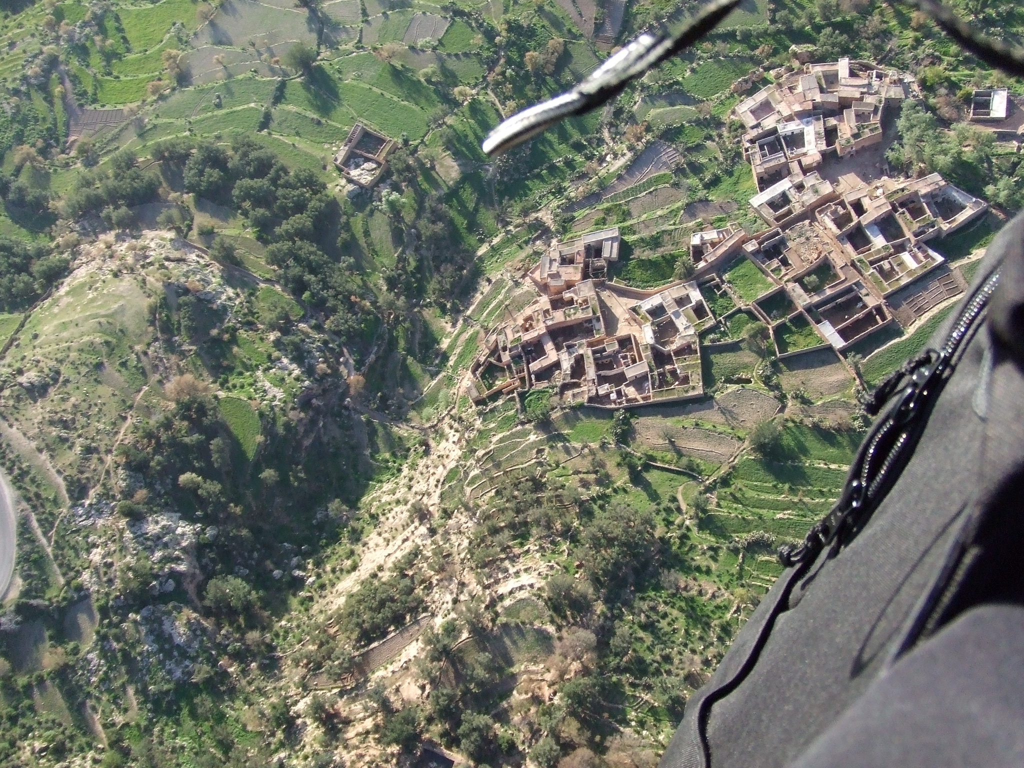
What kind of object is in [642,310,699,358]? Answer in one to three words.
house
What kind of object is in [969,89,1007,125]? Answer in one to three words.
house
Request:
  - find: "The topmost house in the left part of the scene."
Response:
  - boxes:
[333,124,396,200]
